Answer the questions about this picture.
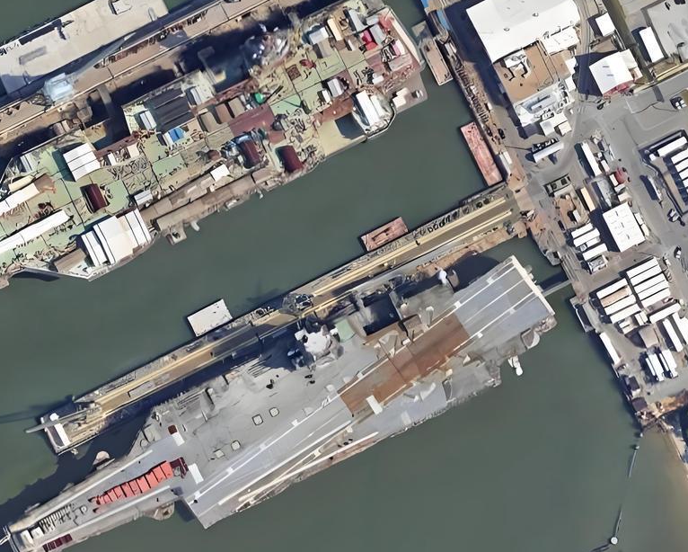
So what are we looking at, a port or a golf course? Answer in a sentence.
This looks like a port.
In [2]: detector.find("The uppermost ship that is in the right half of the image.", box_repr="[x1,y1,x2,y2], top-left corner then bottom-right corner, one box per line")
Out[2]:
[412,21,433,42]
